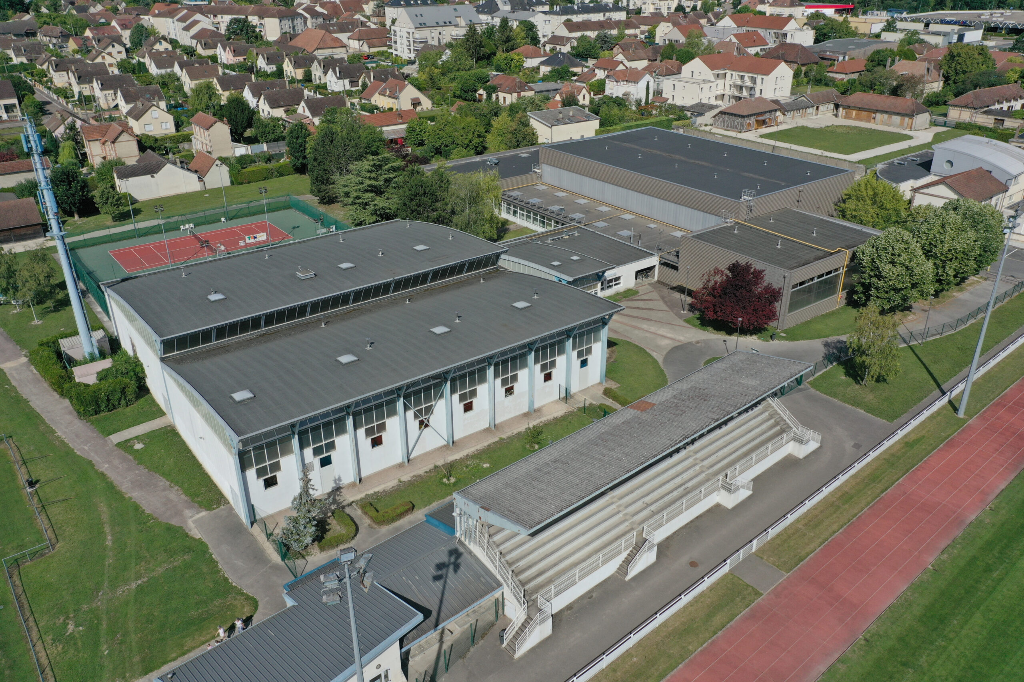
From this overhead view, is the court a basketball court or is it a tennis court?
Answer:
tennis court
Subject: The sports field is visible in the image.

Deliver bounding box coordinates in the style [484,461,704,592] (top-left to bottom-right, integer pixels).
[813,471,1024,682]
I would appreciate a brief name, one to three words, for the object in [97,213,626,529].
building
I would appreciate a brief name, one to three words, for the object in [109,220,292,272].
tennis court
